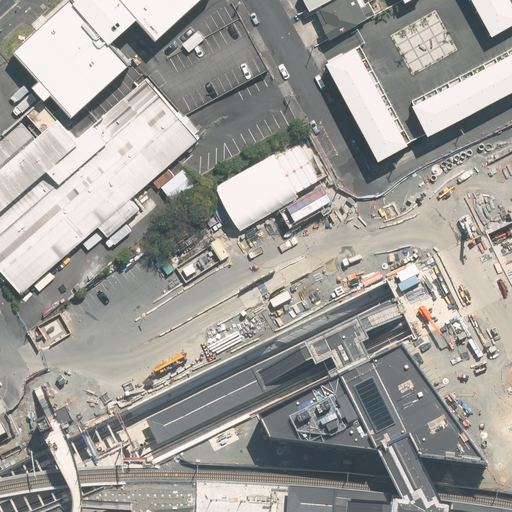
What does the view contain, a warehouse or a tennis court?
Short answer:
warehouse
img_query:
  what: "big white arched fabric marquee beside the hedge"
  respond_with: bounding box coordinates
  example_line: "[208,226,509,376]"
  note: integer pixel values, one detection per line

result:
[218,156,298,231]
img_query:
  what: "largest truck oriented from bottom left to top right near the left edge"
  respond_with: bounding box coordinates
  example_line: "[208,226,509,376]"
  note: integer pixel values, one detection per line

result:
[11,92,39,116]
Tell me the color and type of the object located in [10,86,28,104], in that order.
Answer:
white vehicle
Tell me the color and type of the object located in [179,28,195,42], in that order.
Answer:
gray car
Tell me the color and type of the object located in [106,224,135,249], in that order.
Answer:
white truck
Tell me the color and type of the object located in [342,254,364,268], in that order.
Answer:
white vehicle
